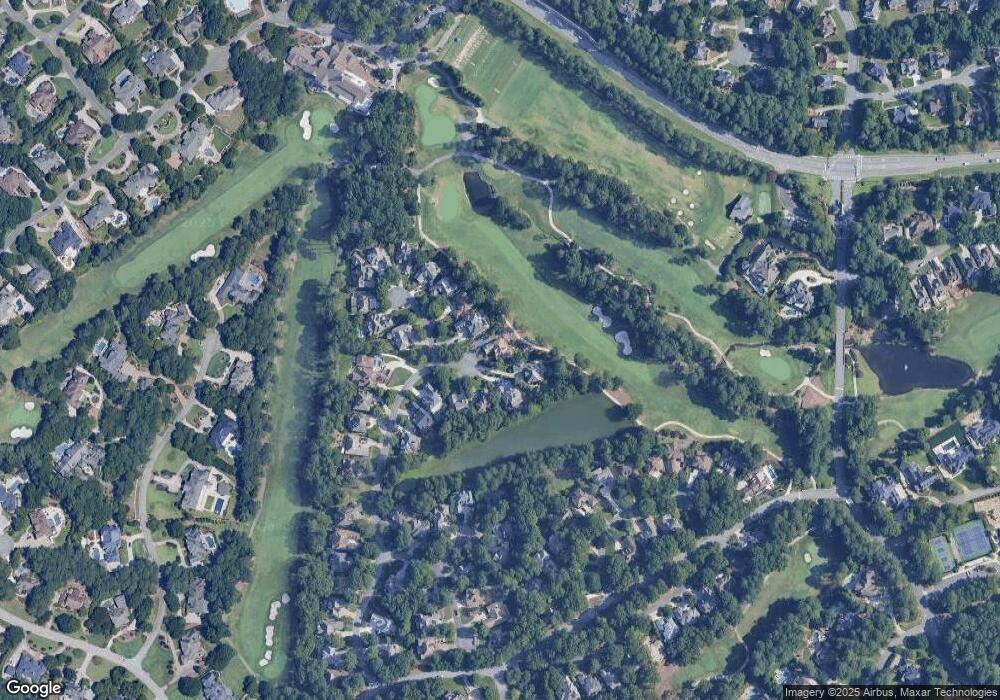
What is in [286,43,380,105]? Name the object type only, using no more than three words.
building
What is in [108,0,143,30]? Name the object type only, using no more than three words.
house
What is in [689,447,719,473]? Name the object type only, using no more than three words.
house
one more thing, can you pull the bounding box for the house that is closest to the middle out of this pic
[482,336,521,359]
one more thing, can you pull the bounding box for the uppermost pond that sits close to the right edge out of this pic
[860,344,974,394]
